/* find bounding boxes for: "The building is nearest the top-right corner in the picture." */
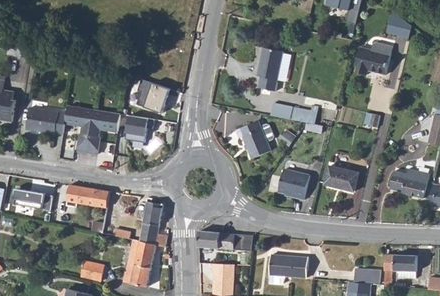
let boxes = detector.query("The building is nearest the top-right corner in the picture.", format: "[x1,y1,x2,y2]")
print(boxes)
[386,12,412,39]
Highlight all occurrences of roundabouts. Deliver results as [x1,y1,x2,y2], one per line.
[167,150,236,216]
